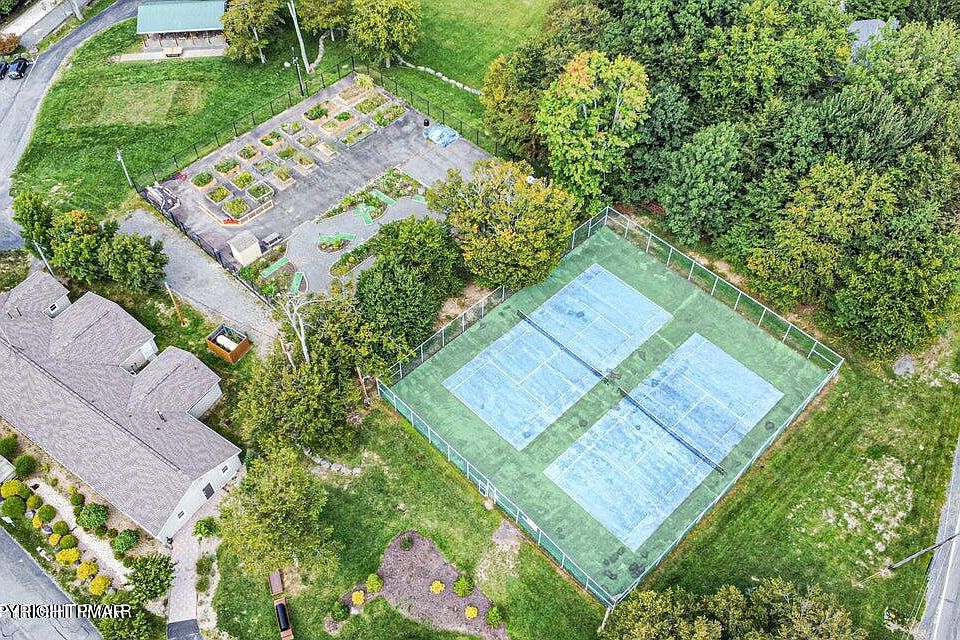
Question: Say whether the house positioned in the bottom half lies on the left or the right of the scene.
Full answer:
You can find the house positioned in the bottom half on the left side of the picture.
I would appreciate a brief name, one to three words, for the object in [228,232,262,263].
shed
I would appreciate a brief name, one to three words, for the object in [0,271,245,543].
house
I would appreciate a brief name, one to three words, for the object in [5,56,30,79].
car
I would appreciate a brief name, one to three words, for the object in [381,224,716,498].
tennis court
